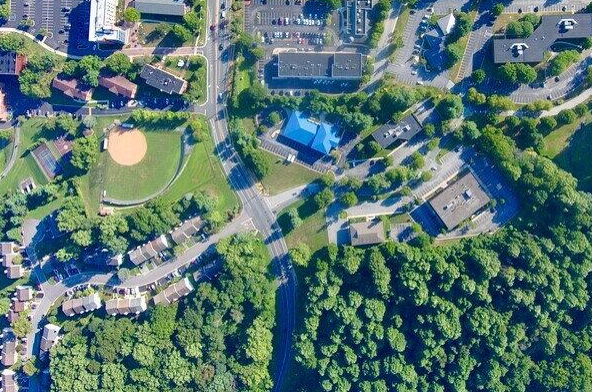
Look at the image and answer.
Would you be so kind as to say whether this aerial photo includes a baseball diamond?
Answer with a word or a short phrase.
Yes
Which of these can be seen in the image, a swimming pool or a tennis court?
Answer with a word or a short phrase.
tennis court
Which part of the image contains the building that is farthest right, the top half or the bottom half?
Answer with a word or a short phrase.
top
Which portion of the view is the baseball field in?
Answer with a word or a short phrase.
left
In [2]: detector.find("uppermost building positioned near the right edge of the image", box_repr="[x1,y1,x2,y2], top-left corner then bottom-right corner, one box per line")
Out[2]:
[491,14,592,65]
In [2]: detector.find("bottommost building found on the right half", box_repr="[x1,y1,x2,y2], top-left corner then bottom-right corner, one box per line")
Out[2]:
[350,216,385,245]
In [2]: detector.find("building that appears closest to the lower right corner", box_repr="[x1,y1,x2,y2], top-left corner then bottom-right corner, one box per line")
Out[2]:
[428,172,492,229]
